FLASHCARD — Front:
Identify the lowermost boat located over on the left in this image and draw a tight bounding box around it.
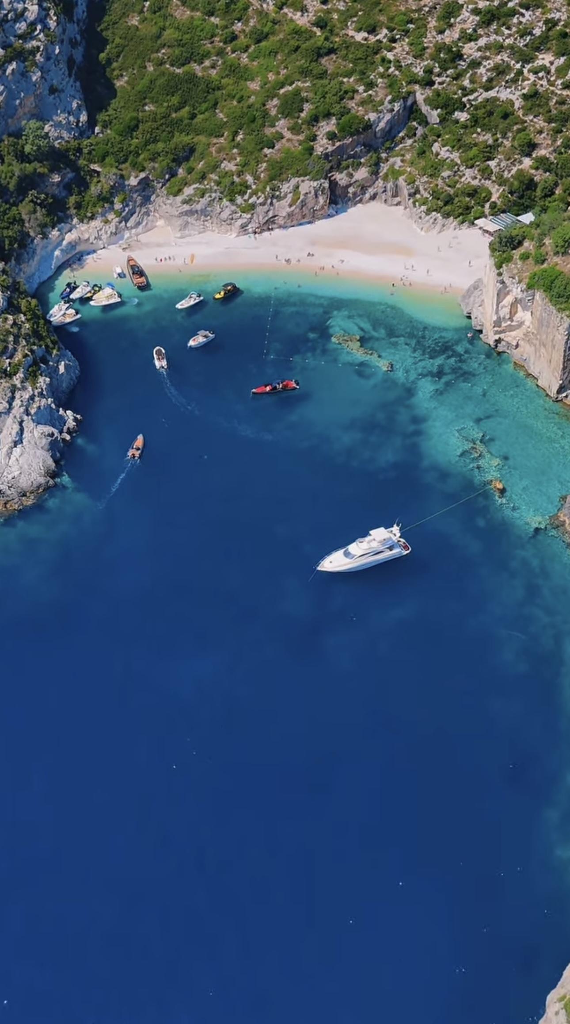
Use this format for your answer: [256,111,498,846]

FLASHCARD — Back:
[126,431,144,460]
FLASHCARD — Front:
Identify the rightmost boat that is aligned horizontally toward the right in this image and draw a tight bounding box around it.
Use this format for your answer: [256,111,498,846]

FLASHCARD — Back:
[292,530,414,600]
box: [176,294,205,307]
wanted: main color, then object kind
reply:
white boat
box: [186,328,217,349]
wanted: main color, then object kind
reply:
white boat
